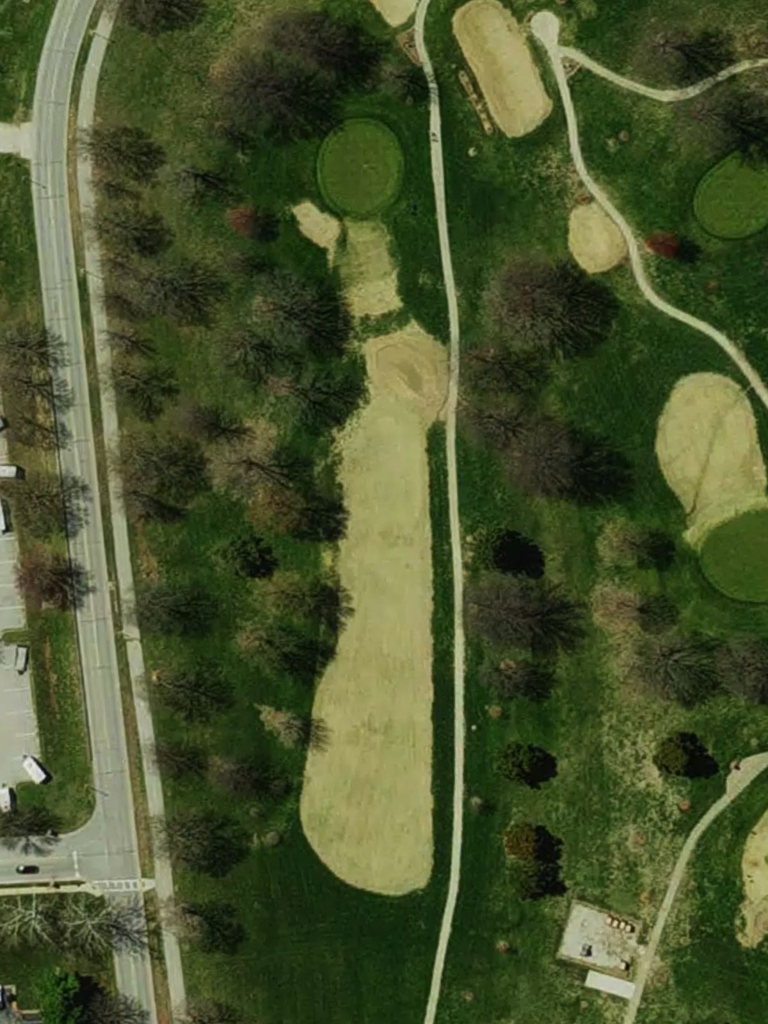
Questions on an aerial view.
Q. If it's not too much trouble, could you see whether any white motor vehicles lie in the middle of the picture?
No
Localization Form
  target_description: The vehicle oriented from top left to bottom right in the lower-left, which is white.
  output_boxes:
[22,756,47,784]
